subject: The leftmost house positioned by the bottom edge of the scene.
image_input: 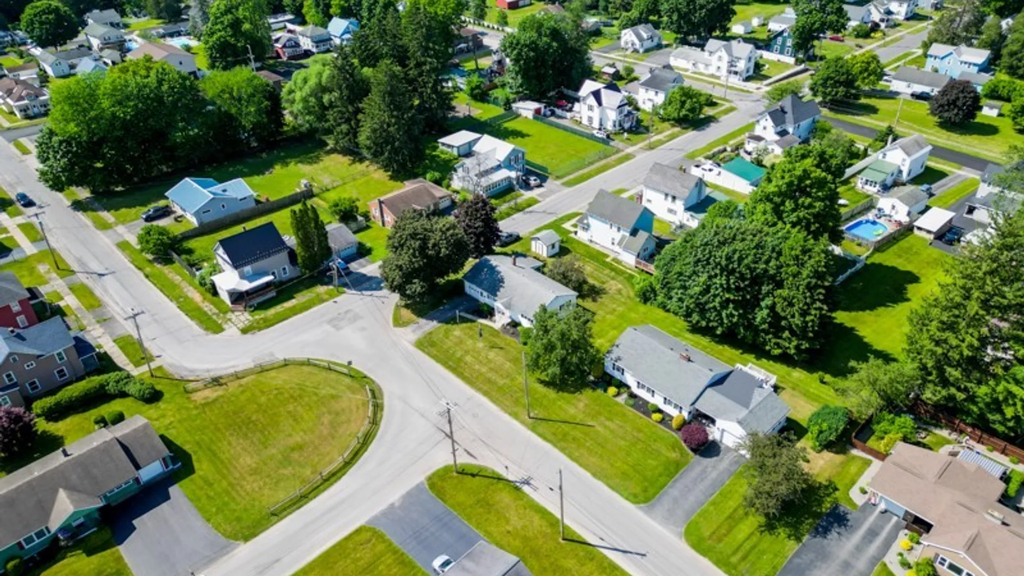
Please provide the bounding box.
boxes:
[0,414,173,560]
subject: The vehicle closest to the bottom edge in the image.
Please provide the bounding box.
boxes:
[433,553,455,573]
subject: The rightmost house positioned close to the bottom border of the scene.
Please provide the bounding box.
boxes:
[868,440,1024,576]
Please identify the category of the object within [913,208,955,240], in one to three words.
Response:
shed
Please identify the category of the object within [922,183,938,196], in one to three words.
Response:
vehicle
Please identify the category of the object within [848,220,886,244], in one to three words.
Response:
swimming pool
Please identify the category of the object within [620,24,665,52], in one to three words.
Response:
house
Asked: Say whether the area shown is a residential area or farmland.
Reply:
residential area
